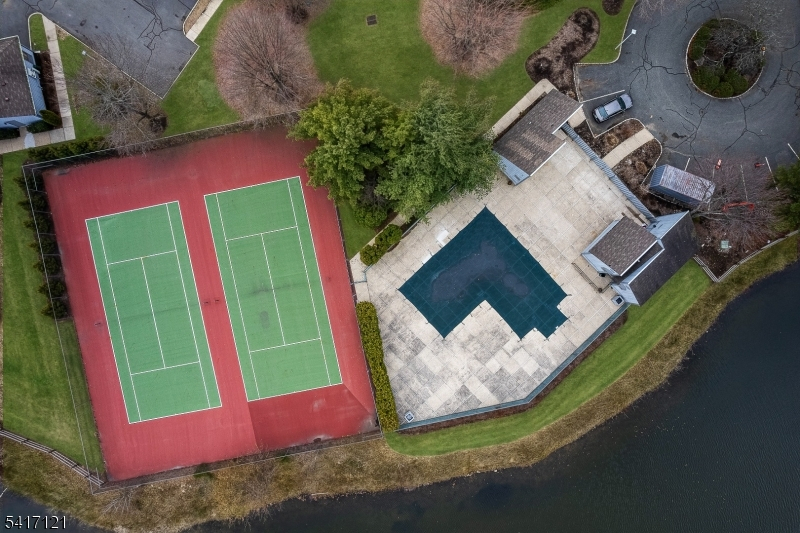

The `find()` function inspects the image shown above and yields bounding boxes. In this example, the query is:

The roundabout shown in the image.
[684,16,766,98]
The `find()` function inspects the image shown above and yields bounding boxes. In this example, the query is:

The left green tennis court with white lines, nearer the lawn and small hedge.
[85,201,222,424]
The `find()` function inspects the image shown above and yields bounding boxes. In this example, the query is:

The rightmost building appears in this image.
[584,210,699,306]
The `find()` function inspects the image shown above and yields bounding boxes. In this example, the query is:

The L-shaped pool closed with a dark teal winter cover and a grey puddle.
[398,204,570,342]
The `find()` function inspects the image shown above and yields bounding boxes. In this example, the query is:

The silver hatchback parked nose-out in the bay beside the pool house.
[592,94,634,122]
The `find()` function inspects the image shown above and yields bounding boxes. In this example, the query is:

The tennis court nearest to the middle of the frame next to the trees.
[204,177,342,402]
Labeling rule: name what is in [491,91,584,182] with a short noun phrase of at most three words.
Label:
building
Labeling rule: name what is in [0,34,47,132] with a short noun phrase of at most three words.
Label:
house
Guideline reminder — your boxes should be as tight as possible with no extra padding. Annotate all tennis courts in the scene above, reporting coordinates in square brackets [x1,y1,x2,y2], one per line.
[204,177,342,402]
[85,201,222,424]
